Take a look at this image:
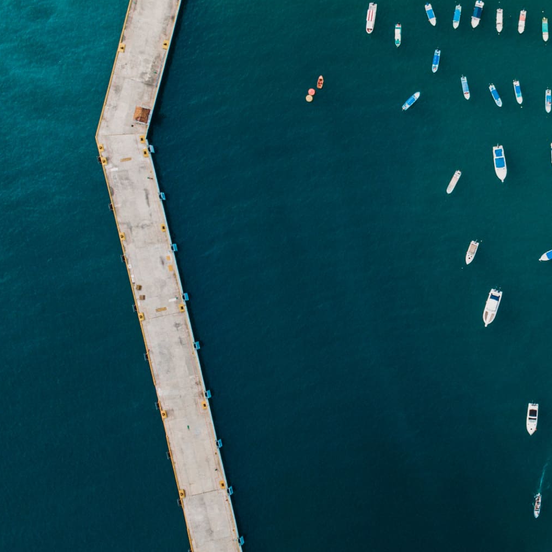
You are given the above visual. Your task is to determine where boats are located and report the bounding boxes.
[493,143,507,183]
[539,250,552,261]
[527,399,538,436]
[402,92,421,112]
[514,78,522,105]
[490,82,502,108]
[394,22,402,48]
[452,2,461,31]
[533,492,542,518]
[318,74,323,89]
[465,240,479,265]
[518,8,526,35]
[471,0,483,30]
[496,5,503,34]
[484,286,501,327]
[461,73,470,101]
[425,2,436,27]
[432,46,440,74]
[447,168,461,195]
[542,14,549,43]
[545,85,551,114]
[366,0,377,35]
